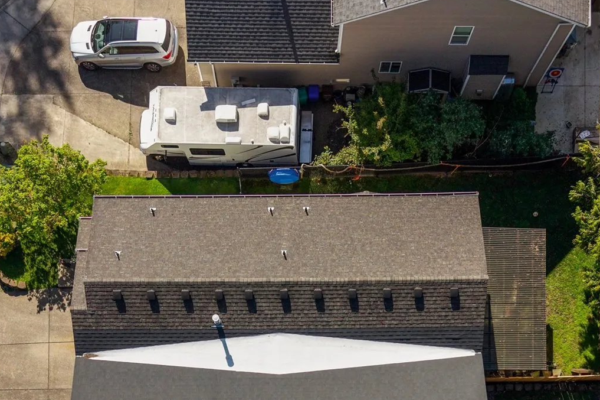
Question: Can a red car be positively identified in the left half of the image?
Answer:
No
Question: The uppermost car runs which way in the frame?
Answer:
horizontally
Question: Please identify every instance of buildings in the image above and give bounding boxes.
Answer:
[70,193,489,400]
[184,0,594,98]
